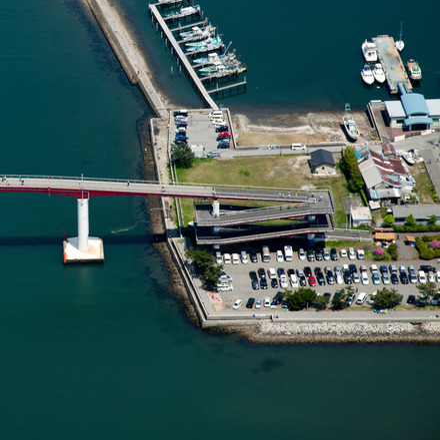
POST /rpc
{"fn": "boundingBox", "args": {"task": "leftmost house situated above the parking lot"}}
[307,149,338,179]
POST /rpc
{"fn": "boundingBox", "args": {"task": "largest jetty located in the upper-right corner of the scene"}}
[372,33,413,96]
